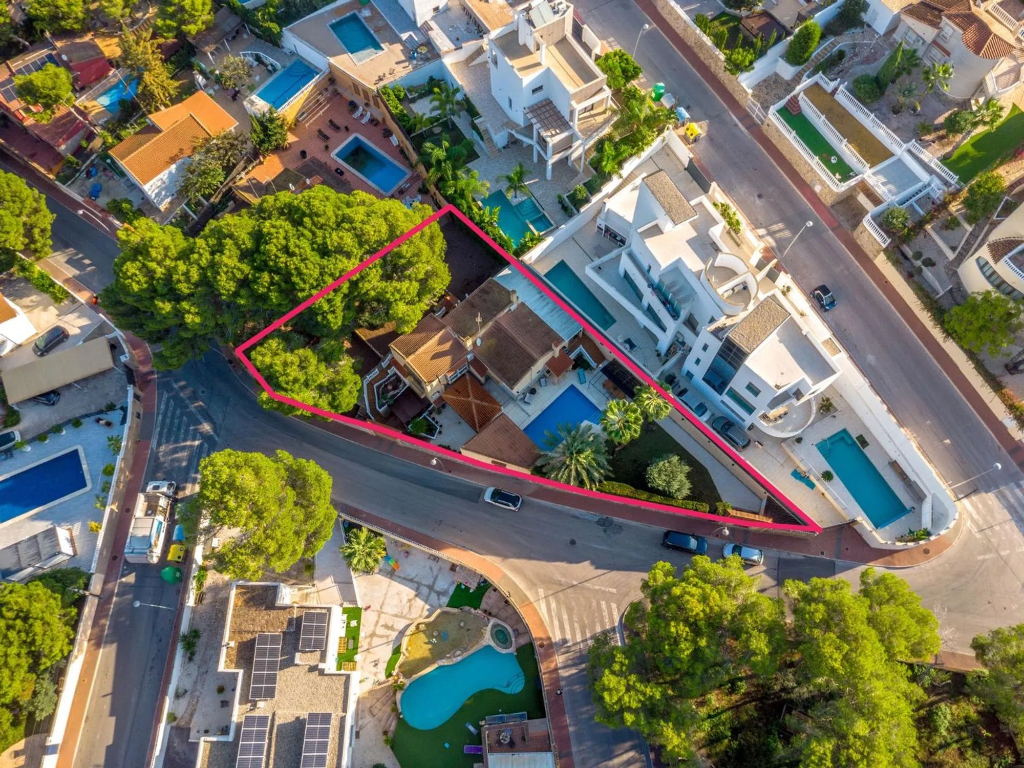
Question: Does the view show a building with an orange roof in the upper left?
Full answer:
Yes, looking in the upper left, one can make out a building with an orange roof.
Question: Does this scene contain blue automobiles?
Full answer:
Yes, I can see a blue automobile in this picture.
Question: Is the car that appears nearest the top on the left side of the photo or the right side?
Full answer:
It is on the right.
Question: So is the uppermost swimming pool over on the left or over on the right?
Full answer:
The uppermost swimming pool appears in the left half of the scene.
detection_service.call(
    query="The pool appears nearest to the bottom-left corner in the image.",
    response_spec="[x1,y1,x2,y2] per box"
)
[0,442,92,526]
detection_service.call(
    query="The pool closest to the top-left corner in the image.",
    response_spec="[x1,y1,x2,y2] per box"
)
[94,70,144,117]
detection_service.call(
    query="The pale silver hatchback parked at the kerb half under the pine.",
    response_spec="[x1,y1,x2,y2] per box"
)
[720,541,766,567]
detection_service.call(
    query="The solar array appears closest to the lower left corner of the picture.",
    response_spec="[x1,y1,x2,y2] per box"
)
[235,714,270,768]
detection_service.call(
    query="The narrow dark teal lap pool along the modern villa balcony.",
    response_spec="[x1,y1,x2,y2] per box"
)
[547,258,617,332]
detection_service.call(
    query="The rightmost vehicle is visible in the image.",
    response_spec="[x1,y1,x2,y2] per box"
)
[810,284,836,312]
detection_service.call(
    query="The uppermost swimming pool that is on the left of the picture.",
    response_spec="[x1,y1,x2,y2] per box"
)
[325,10,389,67]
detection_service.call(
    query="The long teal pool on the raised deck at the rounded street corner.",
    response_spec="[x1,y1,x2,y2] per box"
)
[815,427,911,530]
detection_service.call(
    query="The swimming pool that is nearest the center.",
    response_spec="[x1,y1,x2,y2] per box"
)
[520,382,608,453]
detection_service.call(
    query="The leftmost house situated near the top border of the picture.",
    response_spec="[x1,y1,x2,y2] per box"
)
[0,38,120,192]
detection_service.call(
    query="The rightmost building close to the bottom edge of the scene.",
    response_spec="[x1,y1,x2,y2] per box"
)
[483,715,555,768]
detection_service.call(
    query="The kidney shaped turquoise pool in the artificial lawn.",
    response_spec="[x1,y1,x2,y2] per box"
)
[399,645,526,731]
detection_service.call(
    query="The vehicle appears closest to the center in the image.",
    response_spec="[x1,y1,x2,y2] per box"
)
[481,485,526,513]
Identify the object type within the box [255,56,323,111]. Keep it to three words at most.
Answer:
swimming pool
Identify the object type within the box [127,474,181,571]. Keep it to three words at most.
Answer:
truck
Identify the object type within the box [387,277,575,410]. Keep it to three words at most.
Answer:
house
